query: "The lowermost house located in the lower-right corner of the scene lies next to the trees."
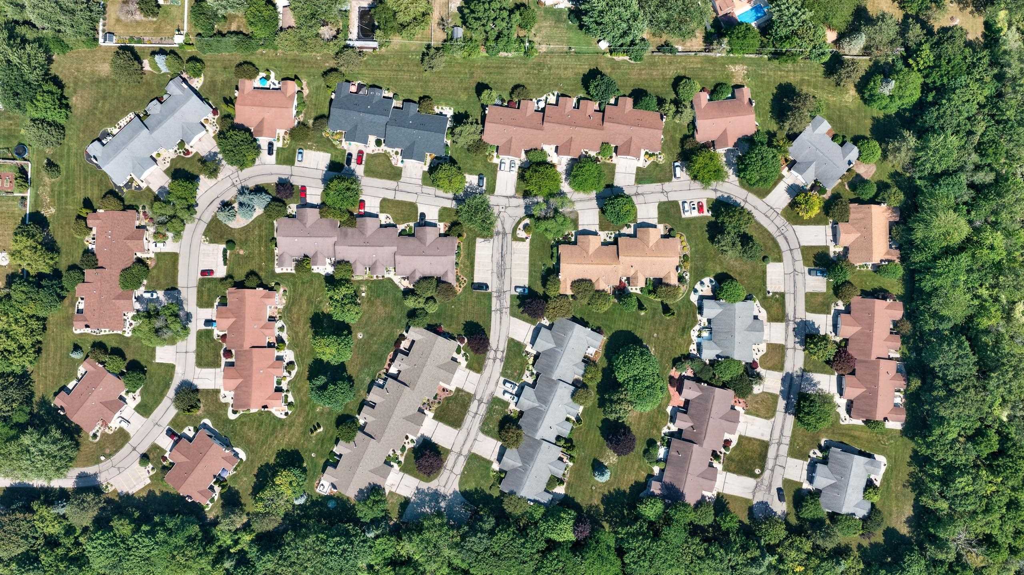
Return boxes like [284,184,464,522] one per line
[811,448,883,519]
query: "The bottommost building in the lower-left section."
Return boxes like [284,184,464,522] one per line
[165,429,240,506]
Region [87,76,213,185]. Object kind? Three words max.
house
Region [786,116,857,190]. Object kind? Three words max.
house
